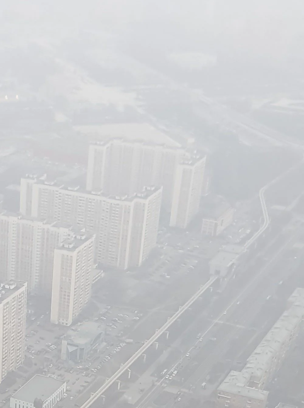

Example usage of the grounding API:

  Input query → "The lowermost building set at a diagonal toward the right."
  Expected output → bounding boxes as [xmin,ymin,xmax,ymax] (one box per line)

[213,298,304,408]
